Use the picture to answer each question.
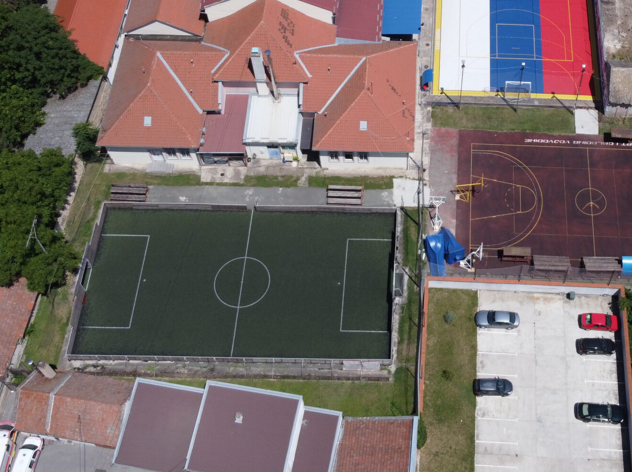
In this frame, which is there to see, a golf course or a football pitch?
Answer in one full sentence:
There is a football pitch in the scene.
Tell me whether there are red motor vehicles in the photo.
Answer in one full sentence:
Yes, the image includes a red motor vehicle.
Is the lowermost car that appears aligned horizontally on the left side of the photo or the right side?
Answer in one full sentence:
The lowermost car that appears aligned horizontally appears in the right half of the scene.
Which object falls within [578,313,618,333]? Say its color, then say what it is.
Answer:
red car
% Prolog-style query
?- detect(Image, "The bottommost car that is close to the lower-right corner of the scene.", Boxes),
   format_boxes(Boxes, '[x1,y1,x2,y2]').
[574,402,624,424]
